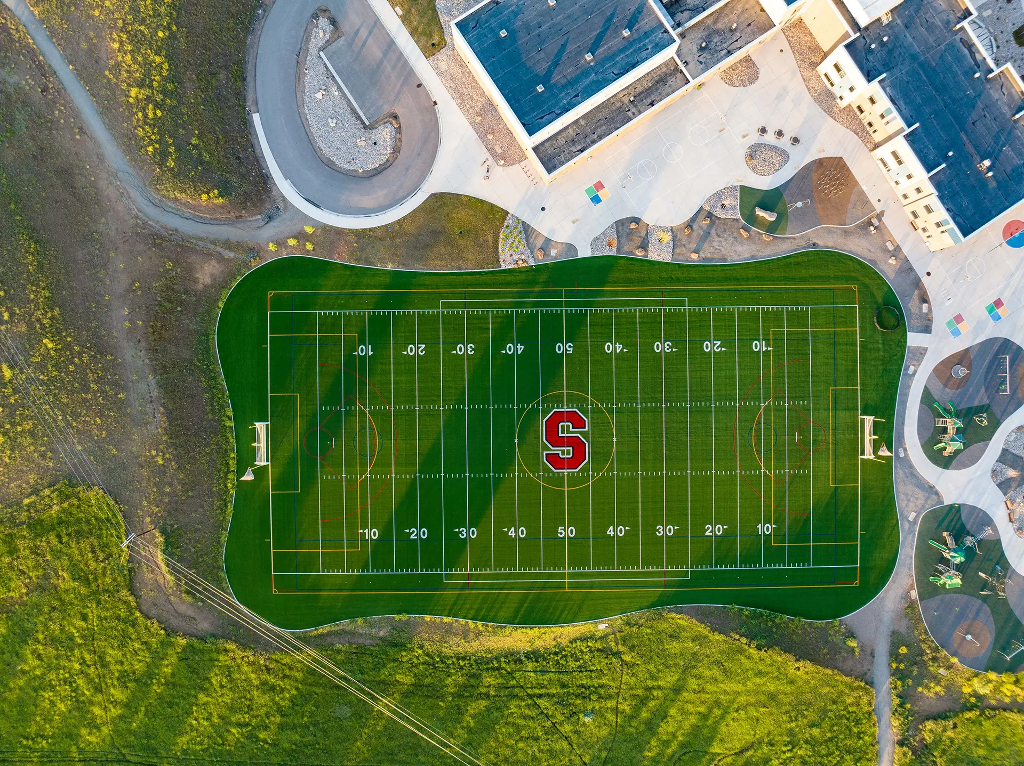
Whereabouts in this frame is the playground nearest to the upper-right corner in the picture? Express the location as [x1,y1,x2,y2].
[813,157,858,226]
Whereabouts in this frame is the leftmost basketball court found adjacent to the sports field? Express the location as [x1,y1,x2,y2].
[606,94,741,211]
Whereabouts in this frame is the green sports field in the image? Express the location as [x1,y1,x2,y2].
[216,248,908,632]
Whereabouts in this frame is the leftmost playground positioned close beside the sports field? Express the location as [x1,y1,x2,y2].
[740,185,788,235]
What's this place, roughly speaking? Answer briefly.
sports ground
